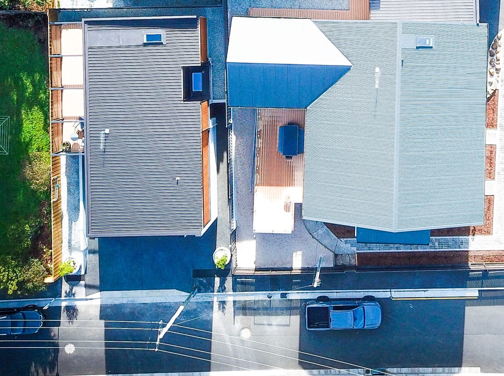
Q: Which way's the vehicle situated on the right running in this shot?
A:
horizontally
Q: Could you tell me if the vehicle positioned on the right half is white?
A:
No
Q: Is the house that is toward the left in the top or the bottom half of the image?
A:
top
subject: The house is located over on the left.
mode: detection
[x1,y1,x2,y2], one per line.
[82,14,220,237]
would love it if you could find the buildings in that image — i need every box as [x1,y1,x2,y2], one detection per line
[226,15,489,234]
[82,14,220,237]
